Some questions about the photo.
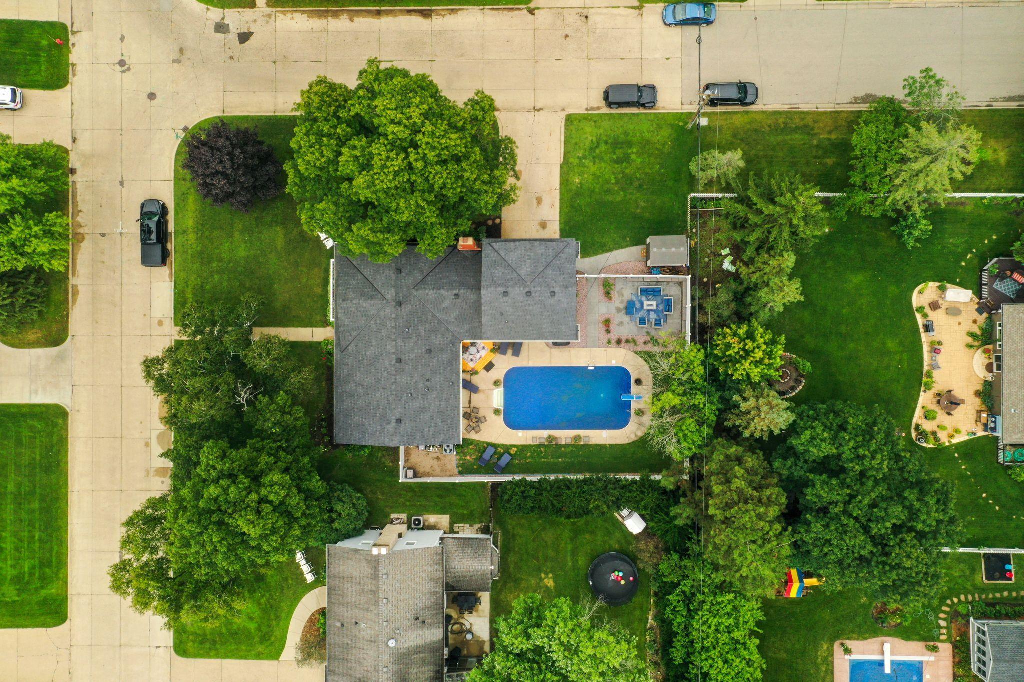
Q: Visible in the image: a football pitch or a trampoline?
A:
trampoline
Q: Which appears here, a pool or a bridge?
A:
pool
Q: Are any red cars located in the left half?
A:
No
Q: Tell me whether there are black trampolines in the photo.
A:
Yes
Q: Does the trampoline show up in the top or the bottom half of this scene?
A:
bottom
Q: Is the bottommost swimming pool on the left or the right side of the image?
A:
right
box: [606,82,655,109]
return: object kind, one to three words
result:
car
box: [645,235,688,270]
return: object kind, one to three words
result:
shed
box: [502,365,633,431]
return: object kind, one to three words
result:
swimming pool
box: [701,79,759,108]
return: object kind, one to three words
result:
car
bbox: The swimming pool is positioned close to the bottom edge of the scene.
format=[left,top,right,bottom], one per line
[850,660,925,682]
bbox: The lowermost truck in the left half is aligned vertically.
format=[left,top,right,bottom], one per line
[139,198,170,269]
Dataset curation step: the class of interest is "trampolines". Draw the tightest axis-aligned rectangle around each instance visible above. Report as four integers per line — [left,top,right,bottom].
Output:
[589,553,643,613]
